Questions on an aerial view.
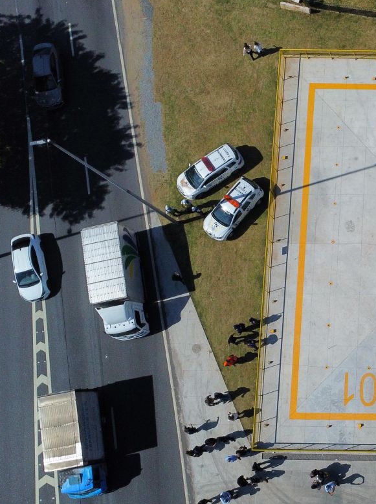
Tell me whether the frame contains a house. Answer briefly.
No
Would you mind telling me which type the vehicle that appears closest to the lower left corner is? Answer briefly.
truck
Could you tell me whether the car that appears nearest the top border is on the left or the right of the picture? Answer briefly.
left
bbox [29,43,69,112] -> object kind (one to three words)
car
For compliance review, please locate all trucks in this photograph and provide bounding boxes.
[81,222,154,345]
[36,388,114,499]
